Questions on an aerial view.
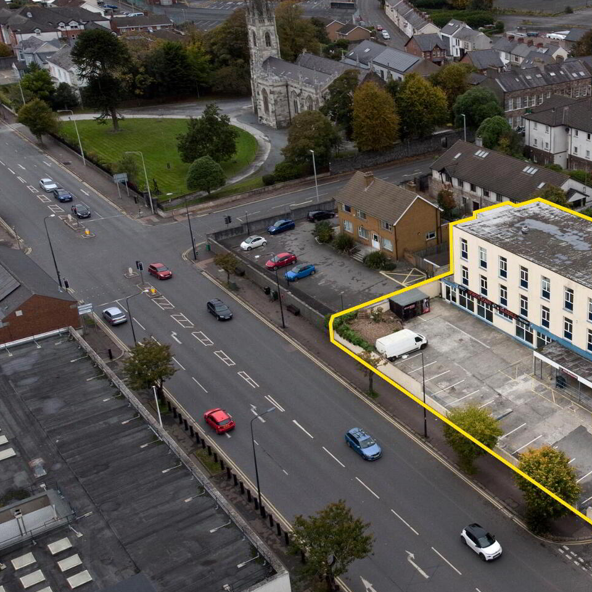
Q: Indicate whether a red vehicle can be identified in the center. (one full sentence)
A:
Yes, a red vehicle is visible in the center.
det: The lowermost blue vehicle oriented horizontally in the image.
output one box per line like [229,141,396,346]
[282,262,318,282]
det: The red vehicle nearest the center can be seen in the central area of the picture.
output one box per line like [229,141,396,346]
[264,252,298,271]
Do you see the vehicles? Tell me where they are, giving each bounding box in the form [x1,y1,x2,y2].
[101,306,130,328]
[69,204,90,220]
[282,262,318,282]
[202,302,234,324]
[340,426,385,462]
[304,208,338,224]
[376,23,383,30]
[237,232,269,250]
[375,325,428,357]
[38,179,59,193]
[458,524,505,567]
[52,190,72,205]
[265,219,296,235]
[200,412,236,439]
[264,252,298,271]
